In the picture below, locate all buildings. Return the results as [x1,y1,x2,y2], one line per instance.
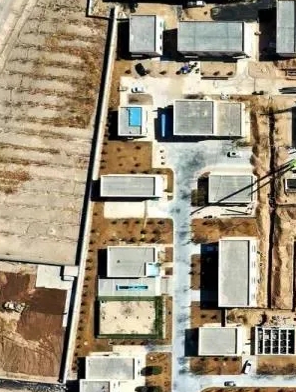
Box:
[100,175,161,196]
[106,246,162,277]
[177,21,249,57]
[198,325,242,355]
[210,175,257,203]
[276,0,296,59]
[63,266,79,277]
[174,100,248,139]
[98,278,165,295]
[219,237,257,307]
[130,15,163,58]
[79,355,142,392]
[119,106,147,136]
